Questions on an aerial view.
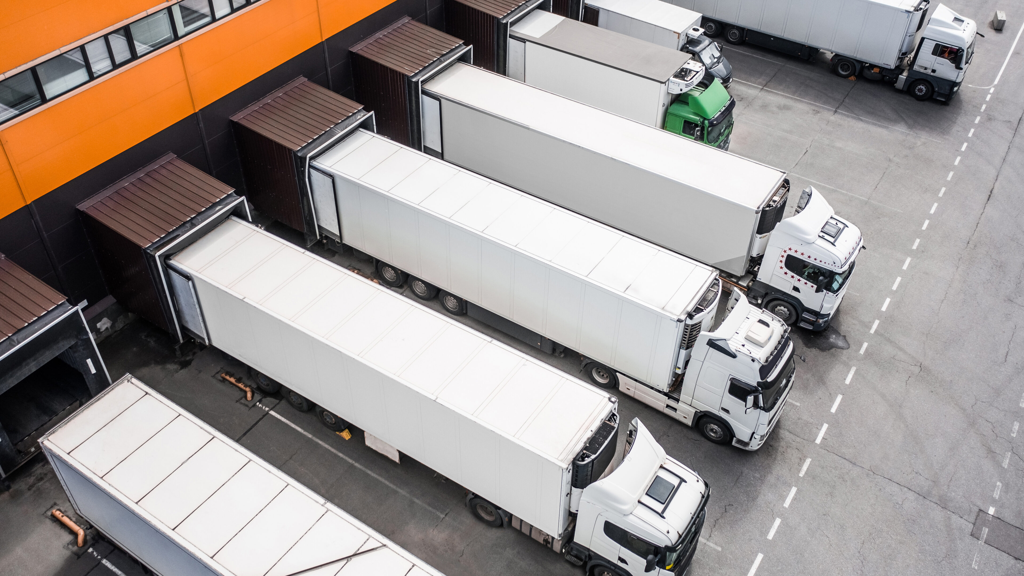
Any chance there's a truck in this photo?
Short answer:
Yes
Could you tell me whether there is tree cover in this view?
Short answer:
No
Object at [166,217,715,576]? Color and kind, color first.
white truck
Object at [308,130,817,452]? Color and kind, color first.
white truck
